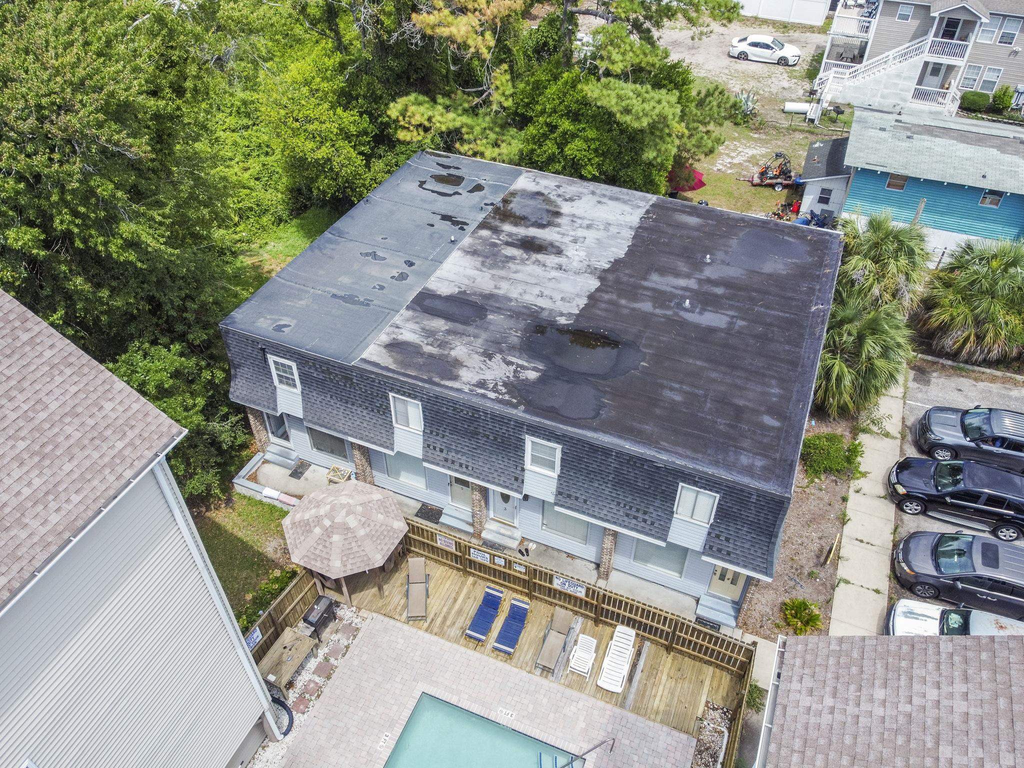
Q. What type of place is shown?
residential area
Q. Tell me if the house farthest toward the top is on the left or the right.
right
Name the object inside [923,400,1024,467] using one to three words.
car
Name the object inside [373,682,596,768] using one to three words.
swimming pool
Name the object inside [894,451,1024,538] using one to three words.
car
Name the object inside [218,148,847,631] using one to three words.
house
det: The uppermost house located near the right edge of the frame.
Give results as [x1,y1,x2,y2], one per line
[810,0,1024,113]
